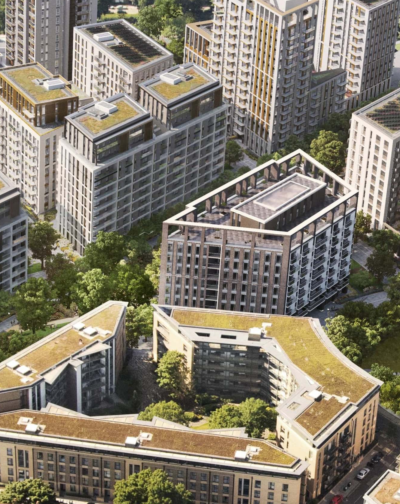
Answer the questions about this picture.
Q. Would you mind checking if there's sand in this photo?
No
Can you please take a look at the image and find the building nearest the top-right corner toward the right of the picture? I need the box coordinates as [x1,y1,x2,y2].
[312,0,400,100]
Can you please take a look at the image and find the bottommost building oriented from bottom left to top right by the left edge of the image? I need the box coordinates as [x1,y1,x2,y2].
[0,302,128,416]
